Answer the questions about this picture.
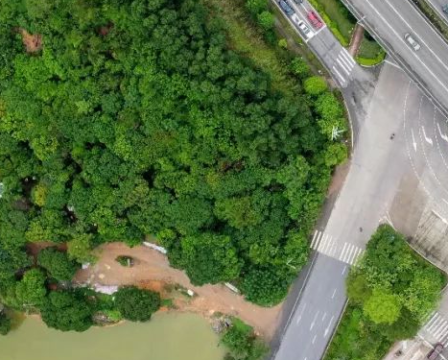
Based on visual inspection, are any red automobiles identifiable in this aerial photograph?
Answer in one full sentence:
Yes, the picture does show a red automobile.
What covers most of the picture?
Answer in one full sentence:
For the most part, this view shows trees.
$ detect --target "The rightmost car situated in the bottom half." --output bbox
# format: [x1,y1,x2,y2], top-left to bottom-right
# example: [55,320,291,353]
[427,342,444,360]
